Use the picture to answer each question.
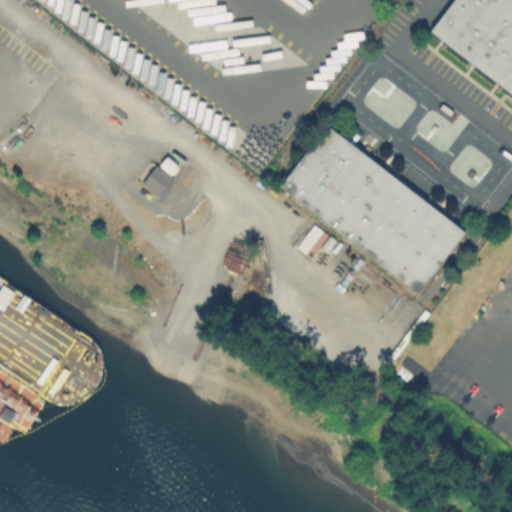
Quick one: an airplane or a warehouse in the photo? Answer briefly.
warehouse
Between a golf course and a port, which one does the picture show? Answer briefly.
port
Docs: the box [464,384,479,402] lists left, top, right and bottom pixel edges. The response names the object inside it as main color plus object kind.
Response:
red vehicle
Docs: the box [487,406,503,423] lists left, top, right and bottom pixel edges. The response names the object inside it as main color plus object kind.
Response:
red vehicle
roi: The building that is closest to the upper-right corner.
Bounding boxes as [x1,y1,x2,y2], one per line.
[430,0,512,100]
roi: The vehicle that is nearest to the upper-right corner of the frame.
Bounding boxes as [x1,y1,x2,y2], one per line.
[440,104,455,118]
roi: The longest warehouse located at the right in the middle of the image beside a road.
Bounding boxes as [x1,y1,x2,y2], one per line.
[285,127,466,294]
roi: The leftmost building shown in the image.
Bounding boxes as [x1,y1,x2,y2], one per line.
[145,156,181,196]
